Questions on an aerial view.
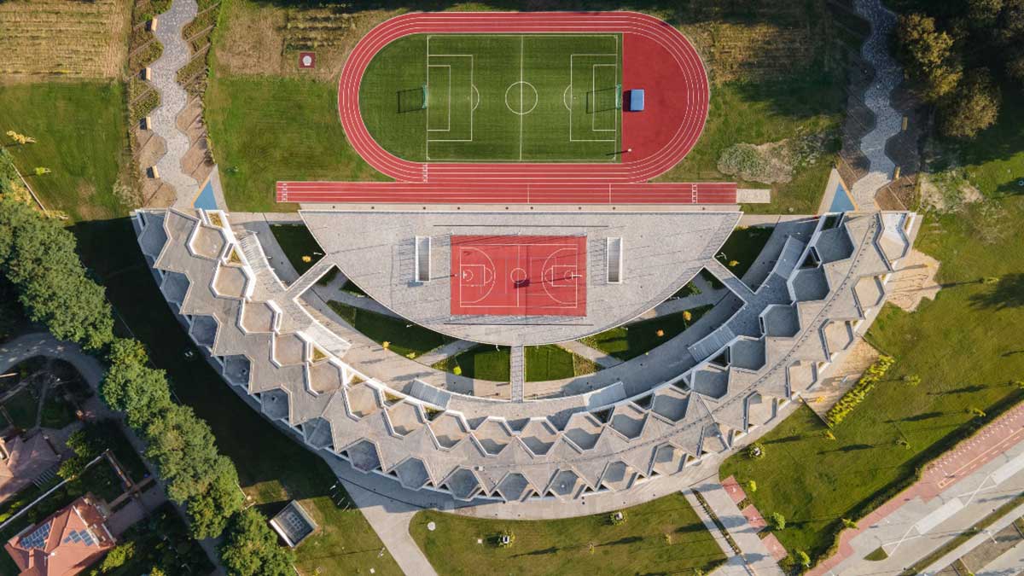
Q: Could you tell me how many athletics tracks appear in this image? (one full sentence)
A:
I count 1 athletics track.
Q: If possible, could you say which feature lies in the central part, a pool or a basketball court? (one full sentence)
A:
It is a basketball court that can be seen in the central part.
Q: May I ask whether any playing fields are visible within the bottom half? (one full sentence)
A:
No, no playing field appears within the bottom half.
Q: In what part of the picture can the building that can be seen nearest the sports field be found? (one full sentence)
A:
Look in the center portion of the view to spot the building that can be seen nearest the sports field.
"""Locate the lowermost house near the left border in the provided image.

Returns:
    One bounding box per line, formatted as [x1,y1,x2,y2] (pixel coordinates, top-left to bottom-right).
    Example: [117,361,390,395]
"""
[2,485,132,576]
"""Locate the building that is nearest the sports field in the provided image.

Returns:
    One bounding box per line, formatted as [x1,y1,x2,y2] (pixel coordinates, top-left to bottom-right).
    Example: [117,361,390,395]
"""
[300,210,742,346]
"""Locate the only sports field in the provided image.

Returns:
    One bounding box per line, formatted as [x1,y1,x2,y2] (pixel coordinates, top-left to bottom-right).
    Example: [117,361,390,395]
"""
[359,33,622,162]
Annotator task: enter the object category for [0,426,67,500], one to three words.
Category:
house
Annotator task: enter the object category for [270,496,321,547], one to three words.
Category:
building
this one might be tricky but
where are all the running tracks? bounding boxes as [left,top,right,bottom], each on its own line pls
[277,12,737,204]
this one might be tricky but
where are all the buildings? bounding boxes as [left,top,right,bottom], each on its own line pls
[300,210,742,346]
[136,208,913,501]
[0,426,67,500]
[2,485,132,576]
[270,496,321,547]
